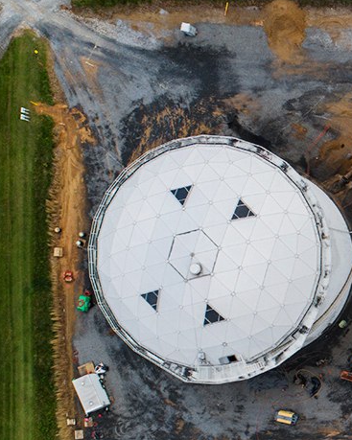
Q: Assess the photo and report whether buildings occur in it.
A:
No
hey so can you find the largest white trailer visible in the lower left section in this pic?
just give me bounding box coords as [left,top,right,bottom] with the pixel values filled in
[72,373,111,415]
